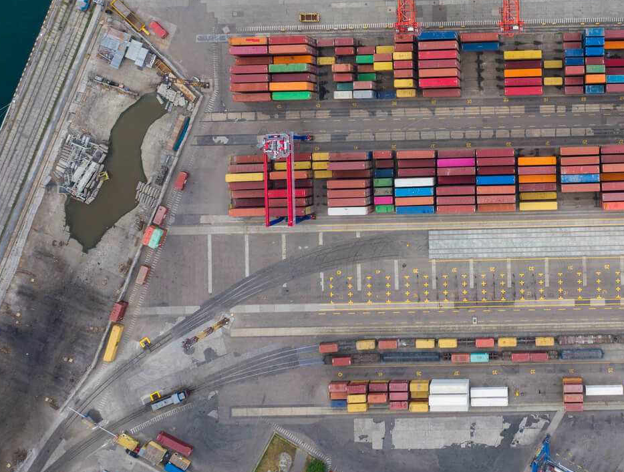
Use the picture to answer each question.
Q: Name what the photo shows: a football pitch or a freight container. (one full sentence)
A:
It is a freight container that can be seen here.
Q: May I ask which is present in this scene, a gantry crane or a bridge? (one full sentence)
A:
Looking from above, you can make out a gantry crane.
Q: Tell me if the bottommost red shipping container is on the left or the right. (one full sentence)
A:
The bottommost red shipping container appears in the left half of the scene.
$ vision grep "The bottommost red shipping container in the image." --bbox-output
[157,428,197,455]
